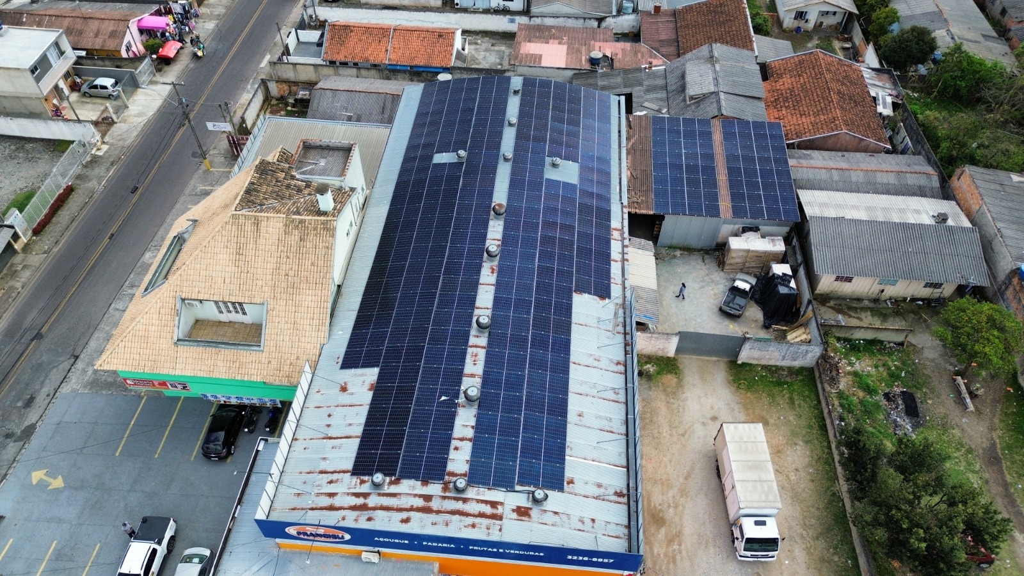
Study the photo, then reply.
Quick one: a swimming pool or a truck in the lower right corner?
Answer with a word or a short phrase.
truck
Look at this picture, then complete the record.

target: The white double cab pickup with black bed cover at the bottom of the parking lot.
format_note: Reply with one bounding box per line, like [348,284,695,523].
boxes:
[118,520,179,576]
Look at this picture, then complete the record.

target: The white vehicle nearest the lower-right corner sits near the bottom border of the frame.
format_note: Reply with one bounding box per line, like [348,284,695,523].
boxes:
[715,420,789,566]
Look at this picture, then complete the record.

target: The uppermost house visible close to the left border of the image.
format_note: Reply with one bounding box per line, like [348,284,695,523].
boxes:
[0,0,165,69]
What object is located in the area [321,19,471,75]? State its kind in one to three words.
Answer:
house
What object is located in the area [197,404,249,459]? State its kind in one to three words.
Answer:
car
